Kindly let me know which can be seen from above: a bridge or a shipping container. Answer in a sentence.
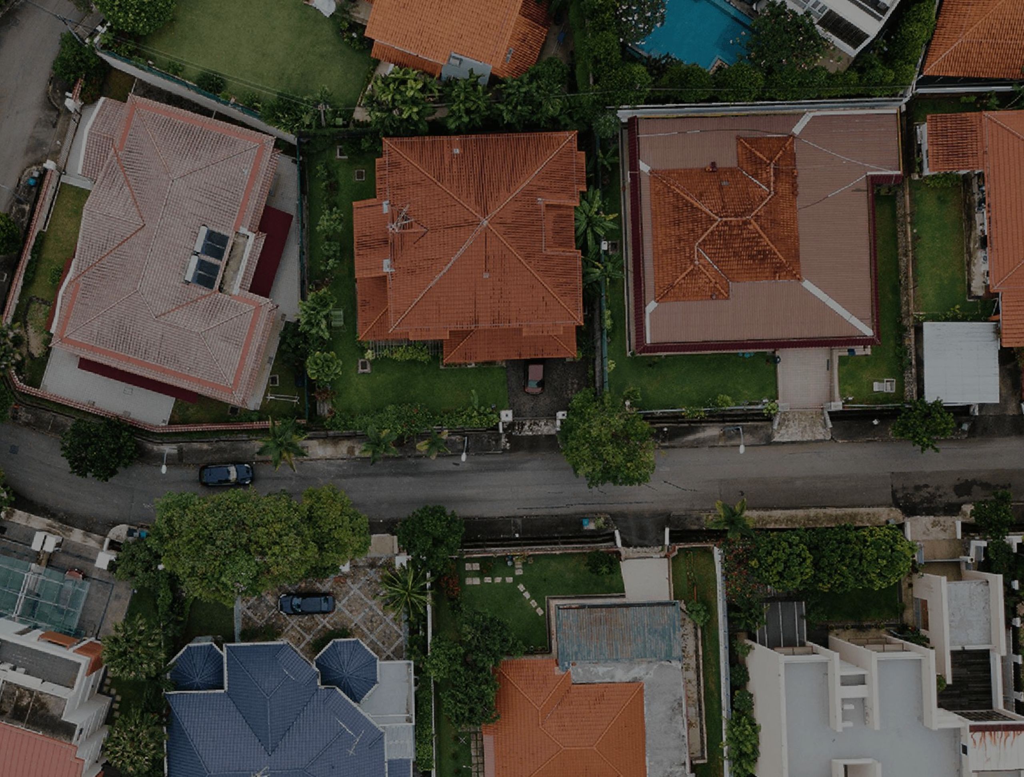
It is a bridge that can be seen here.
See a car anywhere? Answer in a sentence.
Yes, the picture does show a car.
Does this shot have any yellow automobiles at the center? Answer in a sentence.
No, no yellow automobile can be made out at the center.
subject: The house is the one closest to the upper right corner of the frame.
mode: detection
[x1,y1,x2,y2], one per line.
[920,0,1024,87]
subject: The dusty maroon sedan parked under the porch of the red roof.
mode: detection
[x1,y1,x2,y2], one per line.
[522,359,547,396]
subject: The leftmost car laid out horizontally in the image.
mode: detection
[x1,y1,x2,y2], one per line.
[196,461,256,489]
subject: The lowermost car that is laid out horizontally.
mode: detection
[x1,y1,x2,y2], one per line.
[278,590,337,619]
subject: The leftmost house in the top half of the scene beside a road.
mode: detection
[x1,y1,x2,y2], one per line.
[46,92,294,410]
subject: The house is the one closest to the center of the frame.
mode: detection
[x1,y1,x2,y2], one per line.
[353,129,586,366]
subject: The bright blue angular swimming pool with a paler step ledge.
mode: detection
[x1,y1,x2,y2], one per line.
[634,0,762,70]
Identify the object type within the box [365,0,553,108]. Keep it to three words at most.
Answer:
house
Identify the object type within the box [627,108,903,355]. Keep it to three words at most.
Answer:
house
